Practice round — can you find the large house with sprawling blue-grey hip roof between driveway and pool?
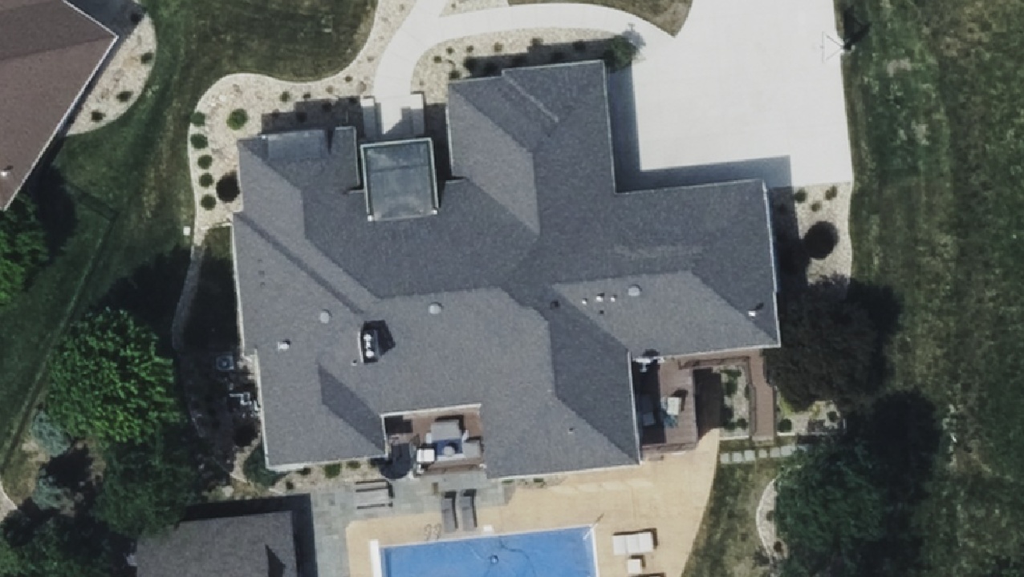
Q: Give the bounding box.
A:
[230,60,781,481]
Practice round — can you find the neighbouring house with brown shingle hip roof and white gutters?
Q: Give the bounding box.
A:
[0,0,122,216]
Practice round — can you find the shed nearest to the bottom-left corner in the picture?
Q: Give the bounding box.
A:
[133,511,298,577]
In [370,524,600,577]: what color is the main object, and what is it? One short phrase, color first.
blue swimming pool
